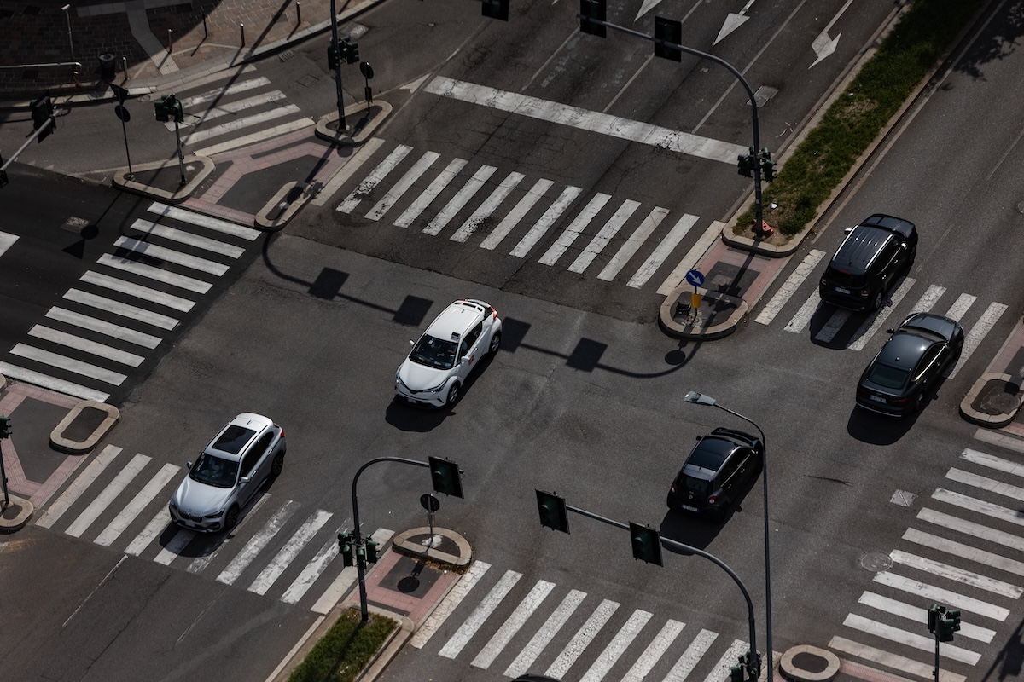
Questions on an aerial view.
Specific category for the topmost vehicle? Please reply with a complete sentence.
The topmost vehicle is a car.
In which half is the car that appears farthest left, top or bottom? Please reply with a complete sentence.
The car that appears farthest left sits in the bottom half of the picture.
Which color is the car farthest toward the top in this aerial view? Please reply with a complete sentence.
The car farthest toward the top looks black in the image.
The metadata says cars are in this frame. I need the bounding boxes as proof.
[665,423,762,517]
[392,300,501,405]
[853,307,964,412]
[164,412,284,530]
[813,210,917,307]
